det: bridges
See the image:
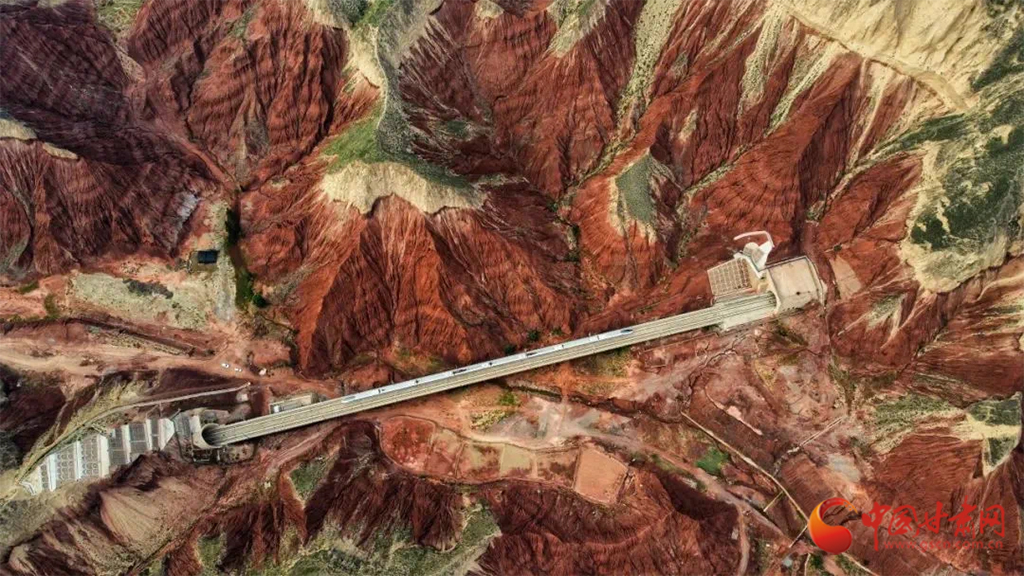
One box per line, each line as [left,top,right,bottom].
[204,290,779,446]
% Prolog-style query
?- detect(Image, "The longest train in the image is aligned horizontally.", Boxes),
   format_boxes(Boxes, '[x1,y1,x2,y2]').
[342,331,635,403]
